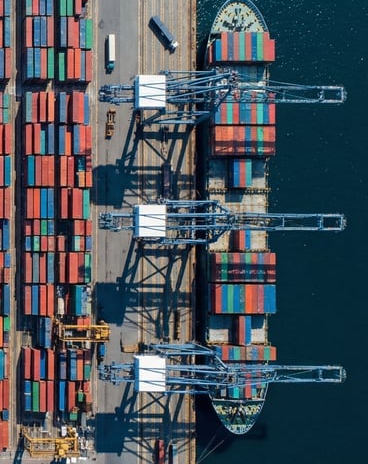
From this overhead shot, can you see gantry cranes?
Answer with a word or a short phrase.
Yes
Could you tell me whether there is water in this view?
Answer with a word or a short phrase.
Yes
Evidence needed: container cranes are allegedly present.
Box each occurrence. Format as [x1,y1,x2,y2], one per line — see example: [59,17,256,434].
[98,196,345,249]
[23,425,80,455]
[52,318,111,343]
[98,333,345,395]
[98,73,345,133]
